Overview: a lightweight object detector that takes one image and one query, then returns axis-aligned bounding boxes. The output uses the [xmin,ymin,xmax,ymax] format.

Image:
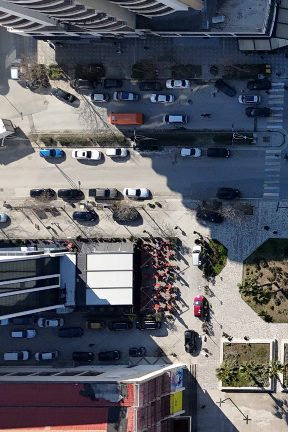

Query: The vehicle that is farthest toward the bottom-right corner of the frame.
[183,329,197,353]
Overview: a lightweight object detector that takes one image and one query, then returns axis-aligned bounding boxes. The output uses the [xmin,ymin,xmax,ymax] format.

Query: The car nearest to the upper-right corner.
[247,77,272,91]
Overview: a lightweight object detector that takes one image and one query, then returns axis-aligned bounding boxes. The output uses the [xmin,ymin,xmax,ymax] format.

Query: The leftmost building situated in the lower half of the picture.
[0,242,84,322]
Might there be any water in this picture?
No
